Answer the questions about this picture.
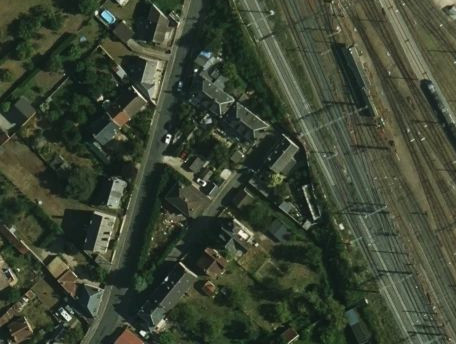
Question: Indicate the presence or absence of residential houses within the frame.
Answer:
Yes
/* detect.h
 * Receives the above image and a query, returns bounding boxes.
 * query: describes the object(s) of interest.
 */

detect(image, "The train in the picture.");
[427,81,456,134]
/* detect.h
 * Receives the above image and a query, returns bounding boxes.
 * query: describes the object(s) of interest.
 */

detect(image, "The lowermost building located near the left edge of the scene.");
[2,313,33,344]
